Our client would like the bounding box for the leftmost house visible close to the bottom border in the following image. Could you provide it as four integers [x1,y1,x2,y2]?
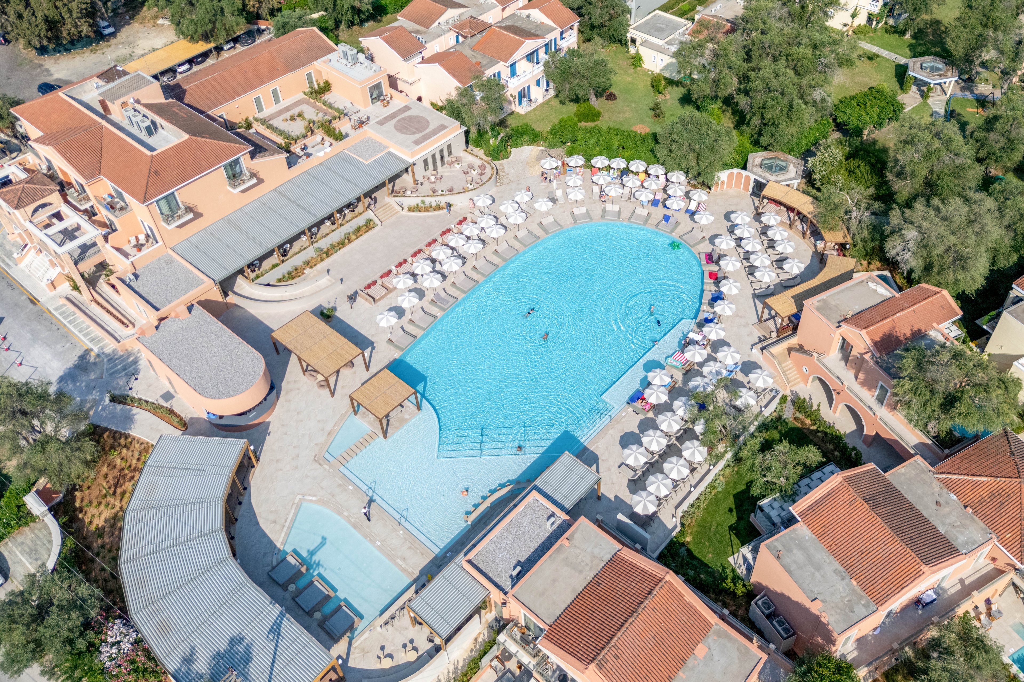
[462,491,767,682]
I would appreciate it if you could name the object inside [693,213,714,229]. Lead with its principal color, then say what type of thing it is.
white umbrella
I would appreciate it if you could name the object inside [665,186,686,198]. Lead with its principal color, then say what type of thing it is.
white umbrella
